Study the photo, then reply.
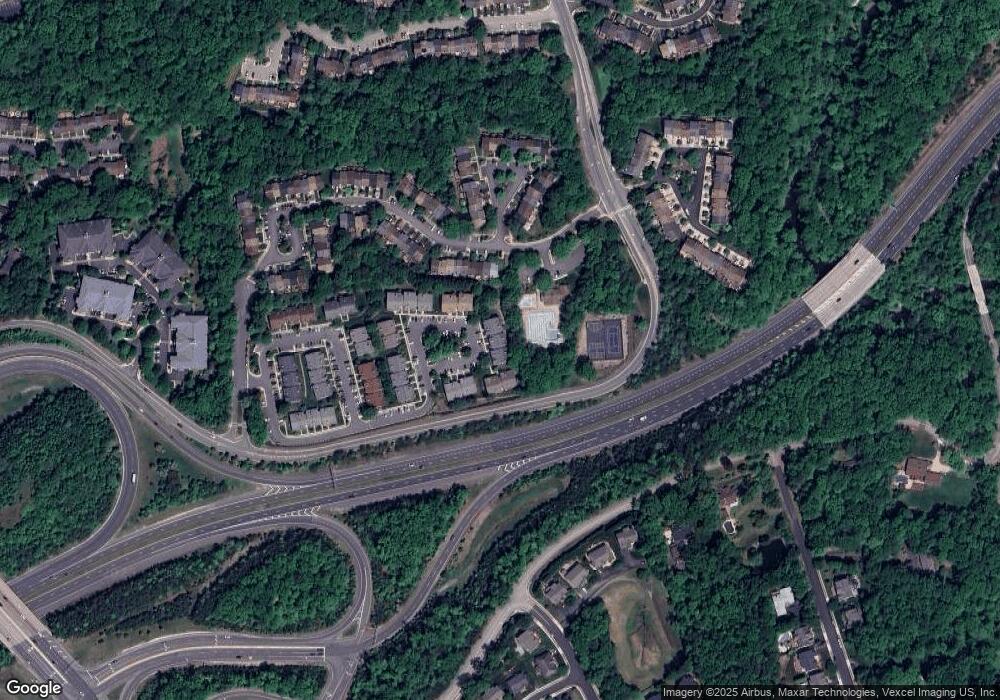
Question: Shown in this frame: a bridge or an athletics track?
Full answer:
Of the two, only a bridge appears.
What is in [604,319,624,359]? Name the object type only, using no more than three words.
tennis court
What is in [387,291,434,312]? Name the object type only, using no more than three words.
house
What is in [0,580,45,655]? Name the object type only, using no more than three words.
overpass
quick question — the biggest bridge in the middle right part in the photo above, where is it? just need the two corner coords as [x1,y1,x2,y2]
[802,240,887,328]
